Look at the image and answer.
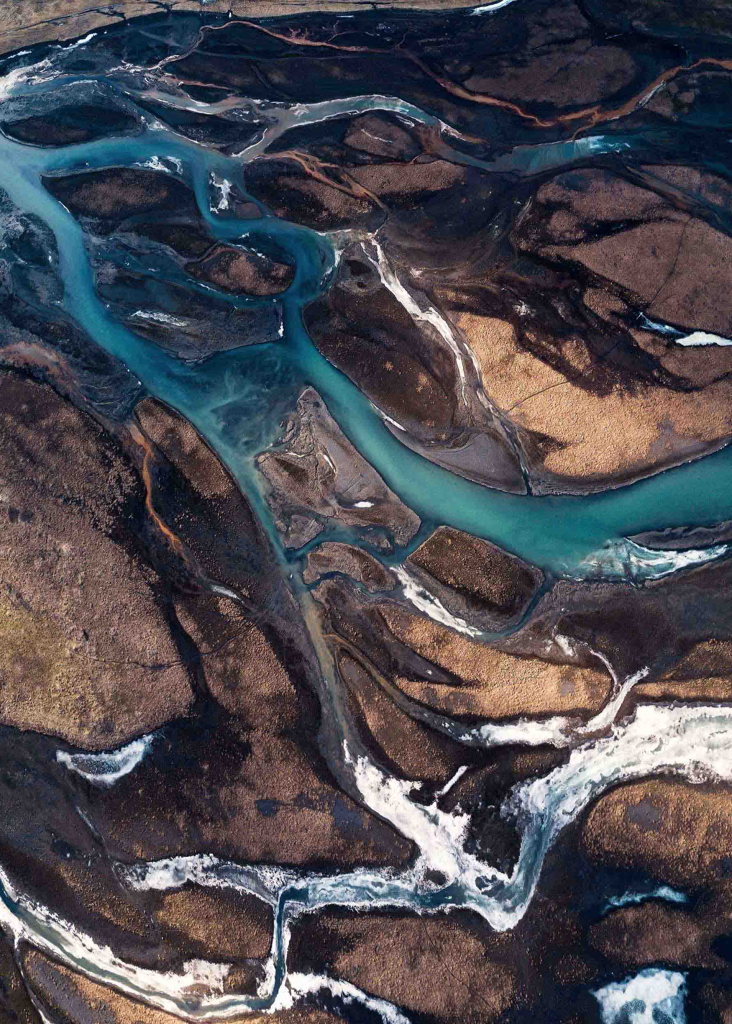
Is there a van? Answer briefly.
No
